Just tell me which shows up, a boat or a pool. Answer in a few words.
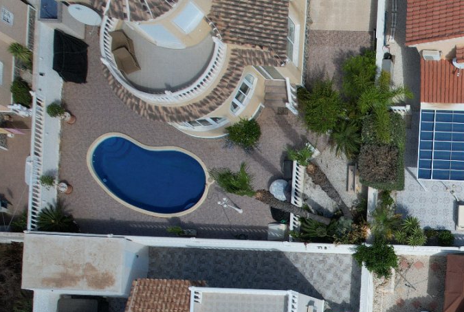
pool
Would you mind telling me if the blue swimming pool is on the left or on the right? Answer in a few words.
left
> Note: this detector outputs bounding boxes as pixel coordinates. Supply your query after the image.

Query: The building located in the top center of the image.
[100,0,305,137]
